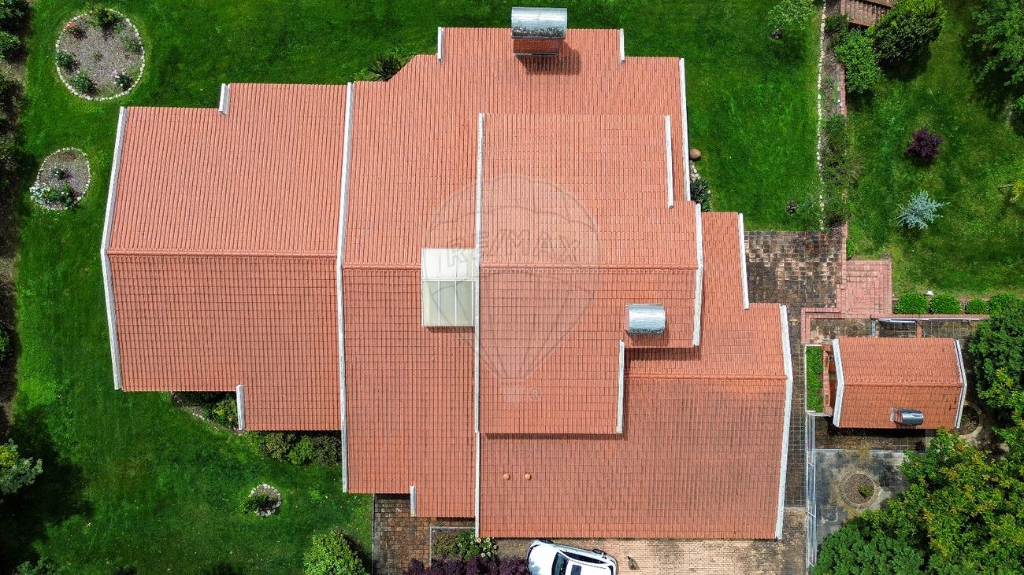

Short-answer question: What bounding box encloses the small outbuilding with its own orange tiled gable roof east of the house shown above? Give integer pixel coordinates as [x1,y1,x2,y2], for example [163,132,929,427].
[828,337,964,430]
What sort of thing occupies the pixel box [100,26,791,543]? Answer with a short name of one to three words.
house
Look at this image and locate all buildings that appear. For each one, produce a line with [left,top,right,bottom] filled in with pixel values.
[100,26,791,543]
[828,337,964,430]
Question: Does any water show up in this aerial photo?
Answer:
No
